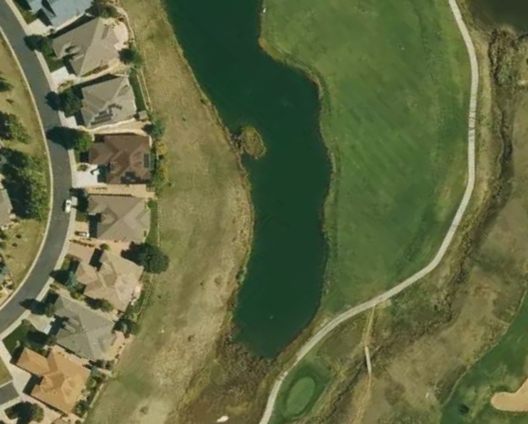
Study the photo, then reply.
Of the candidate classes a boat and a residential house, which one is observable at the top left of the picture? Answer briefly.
residential house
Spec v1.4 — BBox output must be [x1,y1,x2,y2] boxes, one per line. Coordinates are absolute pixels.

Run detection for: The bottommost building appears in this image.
[14,347,90,411]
